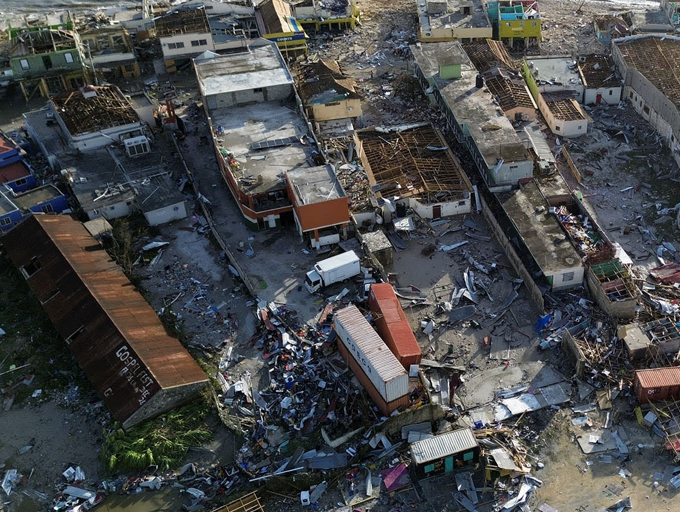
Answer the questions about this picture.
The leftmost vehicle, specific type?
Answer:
truck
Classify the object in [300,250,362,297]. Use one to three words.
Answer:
truck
